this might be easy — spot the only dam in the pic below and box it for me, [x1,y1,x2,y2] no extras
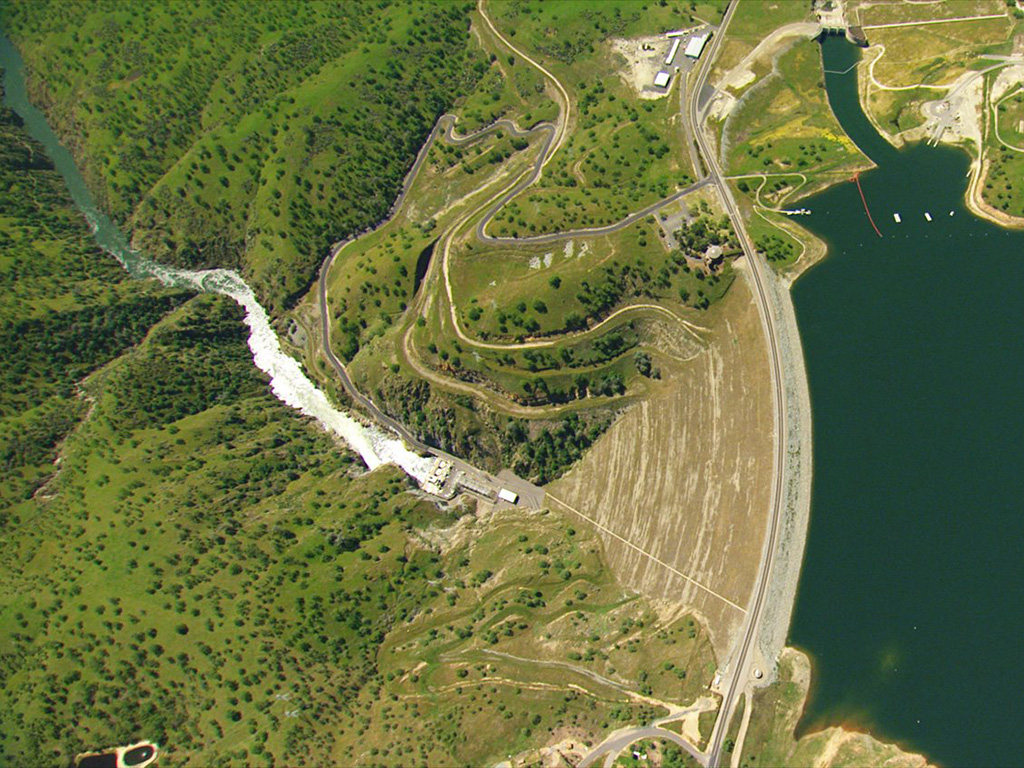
[545,254,811,672]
